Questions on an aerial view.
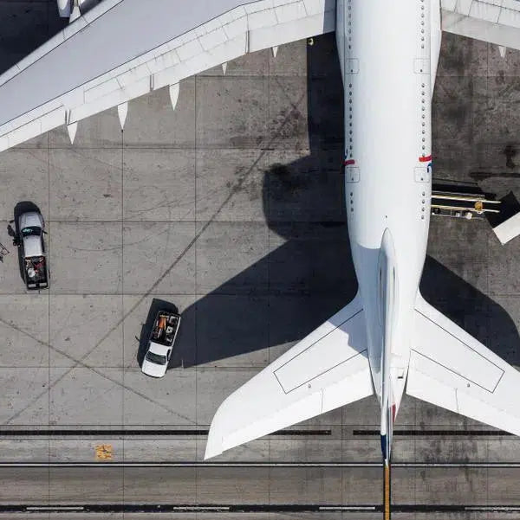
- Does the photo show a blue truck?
No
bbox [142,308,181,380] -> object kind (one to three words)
truck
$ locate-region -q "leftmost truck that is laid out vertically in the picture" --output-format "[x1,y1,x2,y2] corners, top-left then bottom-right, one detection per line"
[15,210,47,290]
